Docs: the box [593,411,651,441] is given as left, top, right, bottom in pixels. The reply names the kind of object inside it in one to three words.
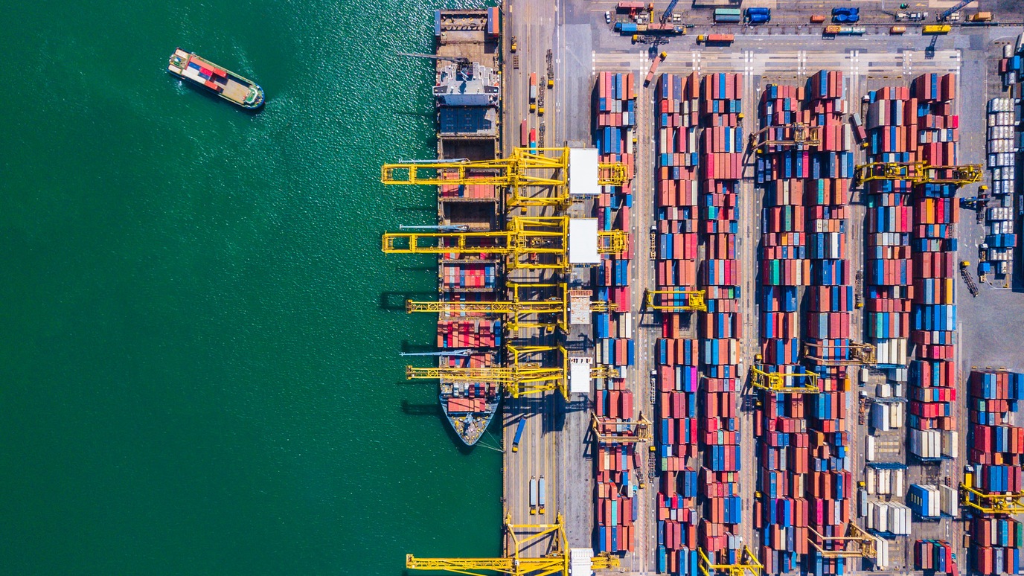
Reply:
container crane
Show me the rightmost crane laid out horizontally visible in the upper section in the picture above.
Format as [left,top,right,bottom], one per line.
[910,163,985,191]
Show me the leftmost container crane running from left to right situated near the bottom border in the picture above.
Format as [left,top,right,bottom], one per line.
[403,507,620,576]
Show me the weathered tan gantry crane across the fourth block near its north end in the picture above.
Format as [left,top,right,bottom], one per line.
[751,122,819,152]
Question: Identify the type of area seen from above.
port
